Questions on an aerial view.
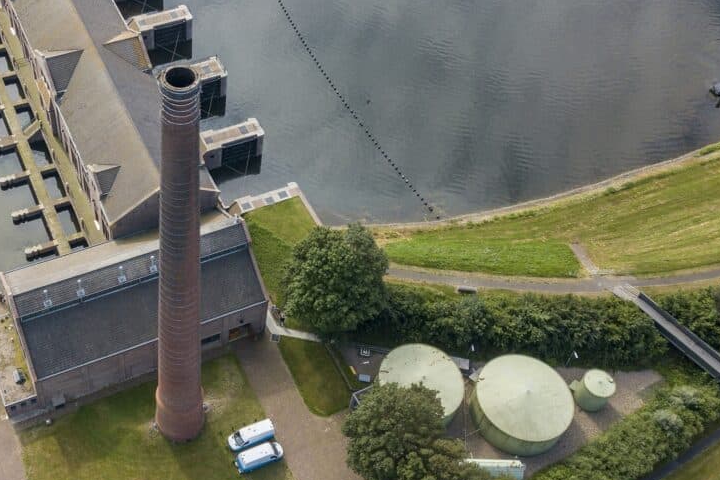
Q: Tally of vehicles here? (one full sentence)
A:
The photo contains 2 vehicles.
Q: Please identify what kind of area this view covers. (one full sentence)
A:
This looks like an industrial area.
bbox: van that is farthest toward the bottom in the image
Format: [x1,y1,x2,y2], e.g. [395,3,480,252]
[237,439,284,470]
